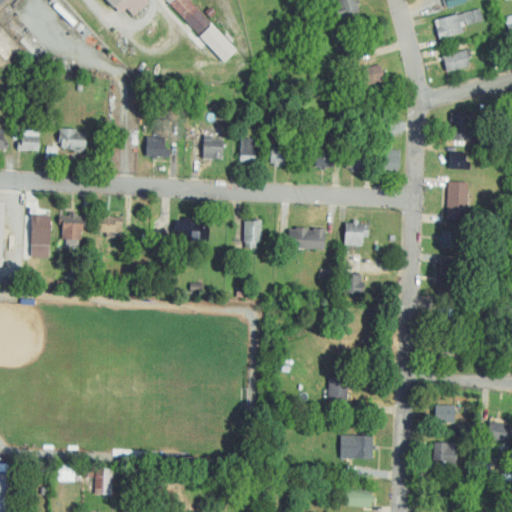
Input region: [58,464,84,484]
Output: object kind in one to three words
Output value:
shed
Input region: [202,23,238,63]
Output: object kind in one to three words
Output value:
barn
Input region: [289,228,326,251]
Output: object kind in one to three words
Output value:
house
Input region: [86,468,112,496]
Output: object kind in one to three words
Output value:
barn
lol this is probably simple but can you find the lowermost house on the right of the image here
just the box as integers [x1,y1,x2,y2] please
[347,490,376,511]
